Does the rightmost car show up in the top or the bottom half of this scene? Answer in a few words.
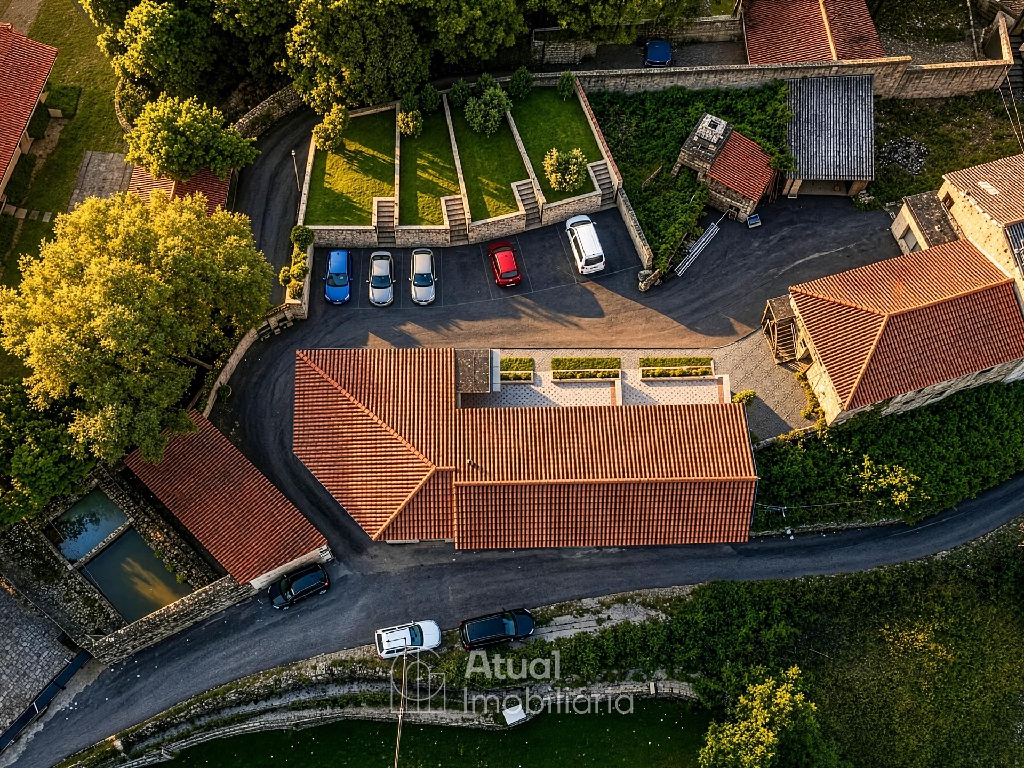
top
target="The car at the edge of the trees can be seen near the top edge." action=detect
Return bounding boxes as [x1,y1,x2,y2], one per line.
[644,36,674,67]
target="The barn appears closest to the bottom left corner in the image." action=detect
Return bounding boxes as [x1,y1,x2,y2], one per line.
[123,409,337,595]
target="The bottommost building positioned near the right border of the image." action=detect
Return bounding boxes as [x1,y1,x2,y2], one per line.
[782,239,1024,425]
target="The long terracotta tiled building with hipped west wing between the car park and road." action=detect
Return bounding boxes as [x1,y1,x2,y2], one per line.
[290,347,760,550]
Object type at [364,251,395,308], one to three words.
car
